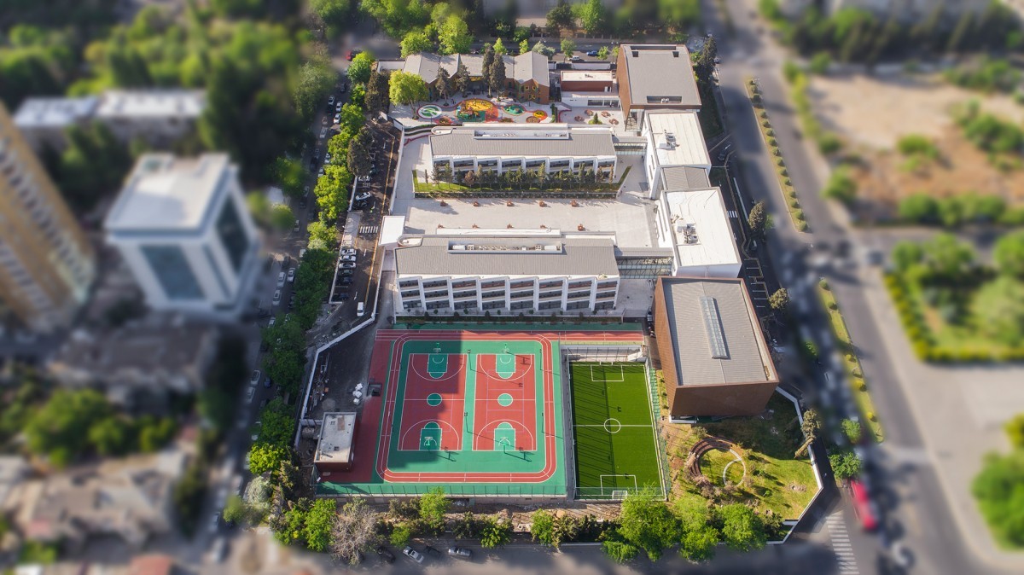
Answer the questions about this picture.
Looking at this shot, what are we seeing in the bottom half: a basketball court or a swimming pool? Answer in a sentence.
Looking in the bottom half, you will find a basketball court.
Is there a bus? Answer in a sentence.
Yes, there's a bus here.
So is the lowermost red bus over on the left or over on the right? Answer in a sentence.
The lowermost red bus appears in the right half of the scene.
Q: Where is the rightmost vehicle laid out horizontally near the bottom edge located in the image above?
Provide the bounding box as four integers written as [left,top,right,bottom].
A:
[447,544,471,556]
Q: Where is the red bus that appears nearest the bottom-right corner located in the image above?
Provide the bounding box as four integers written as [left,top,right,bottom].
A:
[847,474,880,529]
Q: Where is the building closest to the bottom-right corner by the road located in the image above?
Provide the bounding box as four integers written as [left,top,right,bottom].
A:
[651,278,780,423]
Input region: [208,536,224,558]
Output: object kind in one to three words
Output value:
car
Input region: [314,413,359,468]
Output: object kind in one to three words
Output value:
building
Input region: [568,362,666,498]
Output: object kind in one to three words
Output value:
soccer field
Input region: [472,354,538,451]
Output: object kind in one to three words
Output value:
basketball court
